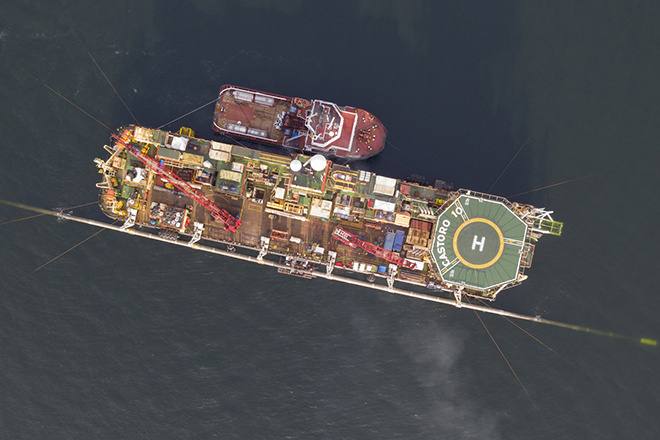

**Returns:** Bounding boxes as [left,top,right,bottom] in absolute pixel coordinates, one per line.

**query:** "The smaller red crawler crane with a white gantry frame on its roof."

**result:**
[331,227,418,271]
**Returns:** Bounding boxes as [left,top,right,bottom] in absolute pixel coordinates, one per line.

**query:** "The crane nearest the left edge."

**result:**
[112,132,247,231]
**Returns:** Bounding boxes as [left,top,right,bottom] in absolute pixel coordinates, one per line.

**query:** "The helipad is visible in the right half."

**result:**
[425,186,535,297]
